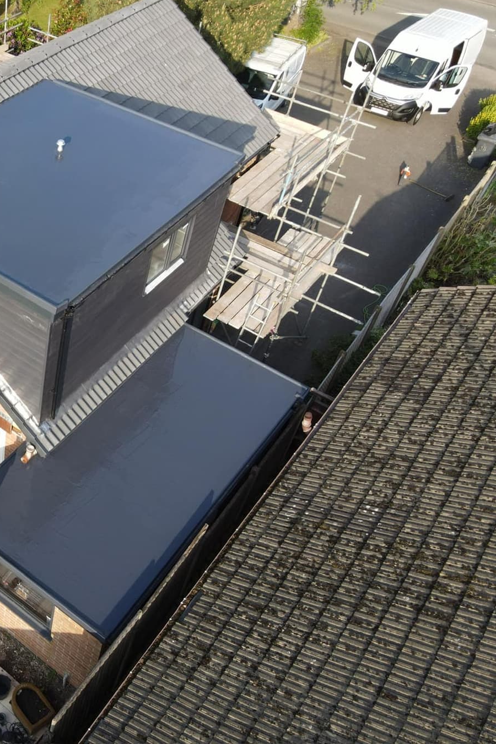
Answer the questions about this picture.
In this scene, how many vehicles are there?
2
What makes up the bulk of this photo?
buildings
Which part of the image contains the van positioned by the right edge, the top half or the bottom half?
top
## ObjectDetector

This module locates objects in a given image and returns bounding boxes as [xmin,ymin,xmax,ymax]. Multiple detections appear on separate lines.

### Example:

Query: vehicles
[336,5,488,129]
[230,32,310,115]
